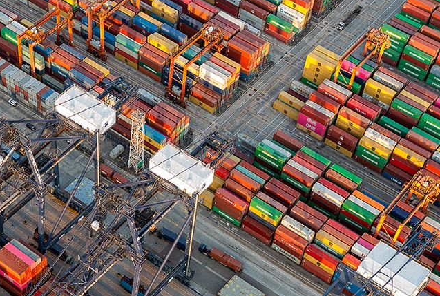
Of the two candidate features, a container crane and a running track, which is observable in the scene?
container crane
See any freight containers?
Yes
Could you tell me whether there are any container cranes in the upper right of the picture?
Yes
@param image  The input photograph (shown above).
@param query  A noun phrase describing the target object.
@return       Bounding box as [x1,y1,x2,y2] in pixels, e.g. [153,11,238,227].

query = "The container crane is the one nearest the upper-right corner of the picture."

[326,17,394,100]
